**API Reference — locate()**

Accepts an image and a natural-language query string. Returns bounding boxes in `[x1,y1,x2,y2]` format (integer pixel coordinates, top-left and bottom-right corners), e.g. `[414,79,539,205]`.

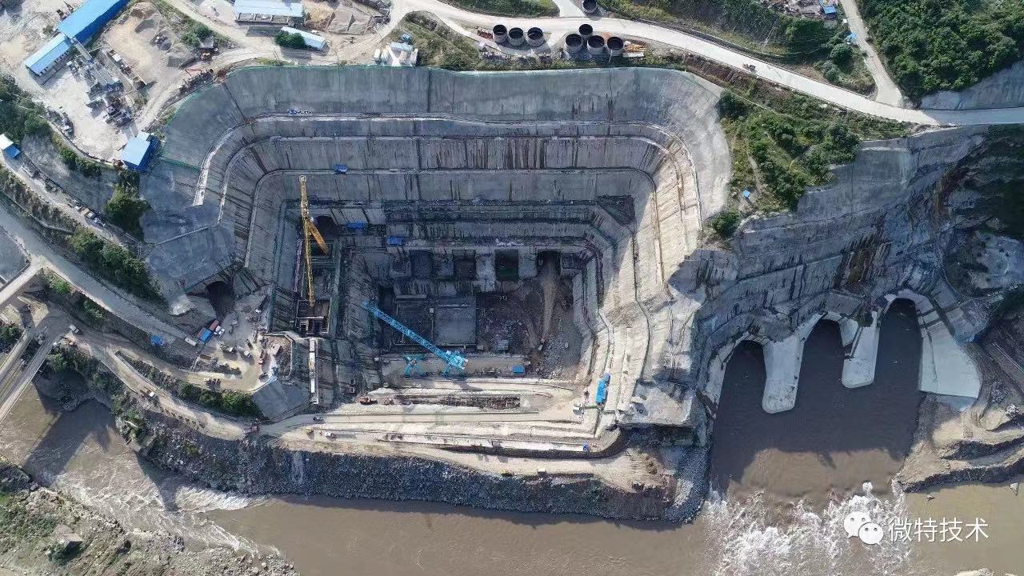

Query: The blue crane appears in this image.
[363,302,468,380]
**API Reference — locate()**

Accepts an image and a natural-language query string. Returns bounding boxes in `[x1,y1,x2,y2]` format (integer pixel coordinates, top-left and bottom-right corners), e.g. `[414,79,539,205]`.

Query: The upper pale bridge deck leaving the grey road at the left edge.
[0,262,47,312]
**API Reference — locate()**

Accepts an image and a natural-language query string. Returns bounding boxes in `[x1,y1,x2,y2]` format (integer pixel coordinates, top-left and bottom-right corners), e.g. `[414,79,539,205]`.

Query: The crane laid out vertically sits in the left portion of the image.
[301,175,328,306]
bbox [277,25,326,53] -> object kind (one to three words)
shed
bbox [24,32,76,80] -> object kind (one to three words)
shed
